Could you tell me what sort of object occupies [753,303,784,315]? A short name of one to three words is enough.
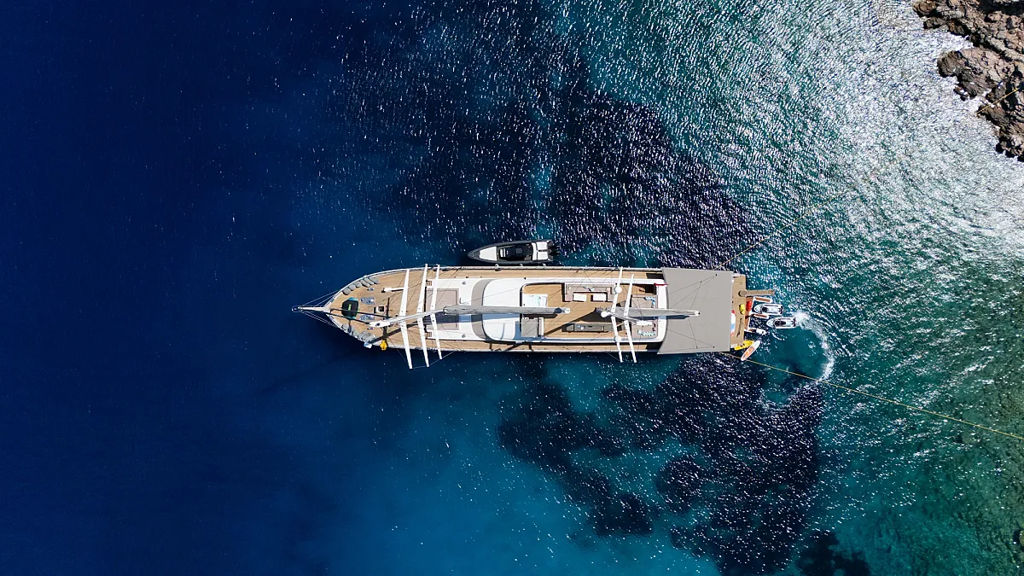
boat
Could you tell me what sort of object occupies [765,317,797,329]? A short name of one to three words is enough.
boat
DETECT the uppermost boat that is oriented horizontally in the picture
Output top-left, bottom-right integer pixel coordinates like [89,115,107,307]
[467,240,557,264]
